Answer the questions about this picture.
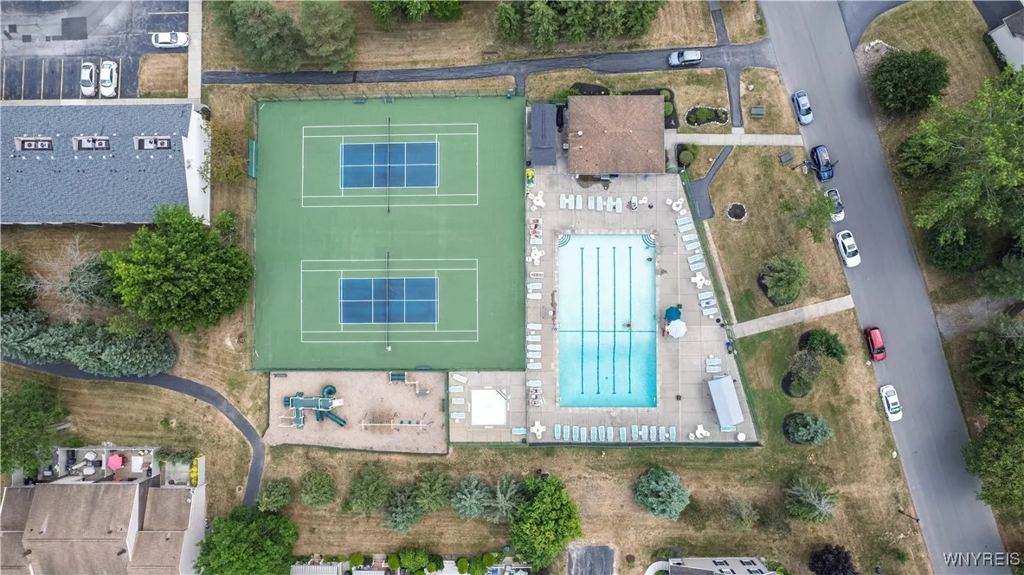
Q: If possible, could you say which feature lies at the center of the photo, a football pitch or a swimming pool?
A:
swimming pool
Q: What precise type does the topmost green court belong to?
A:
tennis court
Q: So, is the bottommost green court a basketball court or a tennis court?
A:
tennis court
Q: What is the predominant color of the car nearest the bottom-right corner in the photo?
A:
white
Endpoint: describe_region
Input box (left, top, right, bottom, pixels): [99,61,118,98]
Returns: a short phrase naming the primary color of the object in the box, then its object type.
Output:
white car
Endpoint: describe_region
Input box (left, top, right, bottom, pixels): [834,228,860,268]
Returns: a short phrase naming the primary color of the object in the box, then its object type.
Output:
white car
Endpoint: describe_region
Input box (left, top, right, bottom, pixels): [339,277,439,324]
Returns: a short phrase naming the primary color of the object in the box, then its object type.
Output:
blue sports court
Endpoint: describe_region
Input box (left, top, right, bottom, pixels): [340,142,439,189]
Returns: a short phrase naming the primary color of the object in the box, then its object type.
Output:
blue sports court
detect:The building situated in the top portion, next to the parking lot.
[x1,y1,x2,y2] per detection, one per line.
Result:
[0,102,211,228]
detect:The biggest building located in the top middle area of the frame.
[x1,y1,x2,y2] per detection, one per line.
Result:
[567,94,666,177]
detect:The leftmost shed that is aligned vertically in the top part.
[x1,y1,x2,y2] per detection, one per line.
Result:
[531,102,557,168]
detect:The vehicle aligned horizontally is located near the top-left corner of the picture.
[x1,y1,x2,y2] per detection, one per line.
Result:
[152,31,189,49]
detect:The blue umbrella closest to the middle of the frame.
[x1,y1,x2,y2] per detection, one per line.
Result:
[664,305,681,321]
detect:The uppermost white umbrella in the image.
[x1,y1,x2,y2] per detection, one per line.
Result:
[666,319,686,338]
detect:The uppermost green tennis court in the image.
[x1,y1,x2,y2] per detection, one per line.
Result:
[256,95,525,234]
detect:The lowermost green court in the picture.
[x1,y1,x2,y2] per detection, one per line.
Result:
[254,231,525,371]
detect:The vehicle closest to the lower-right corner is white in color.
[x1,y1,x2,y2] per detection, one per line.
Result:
[877,383,902,422]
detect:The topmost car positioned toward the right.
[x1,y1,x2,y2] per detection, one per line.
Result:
[667,49,703,67]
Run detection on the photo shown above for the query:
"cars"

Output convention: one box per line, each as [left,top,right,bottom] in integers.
[877,383,902,422]
[667,49,703,67]
[834,228,860,268]
[790,88,814,126]
[807,143,837,181]
[152,31,189,49]
[99,61,118,98]
[823,187,846,223]
[862,325,886,362]
[79,63,99,98]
